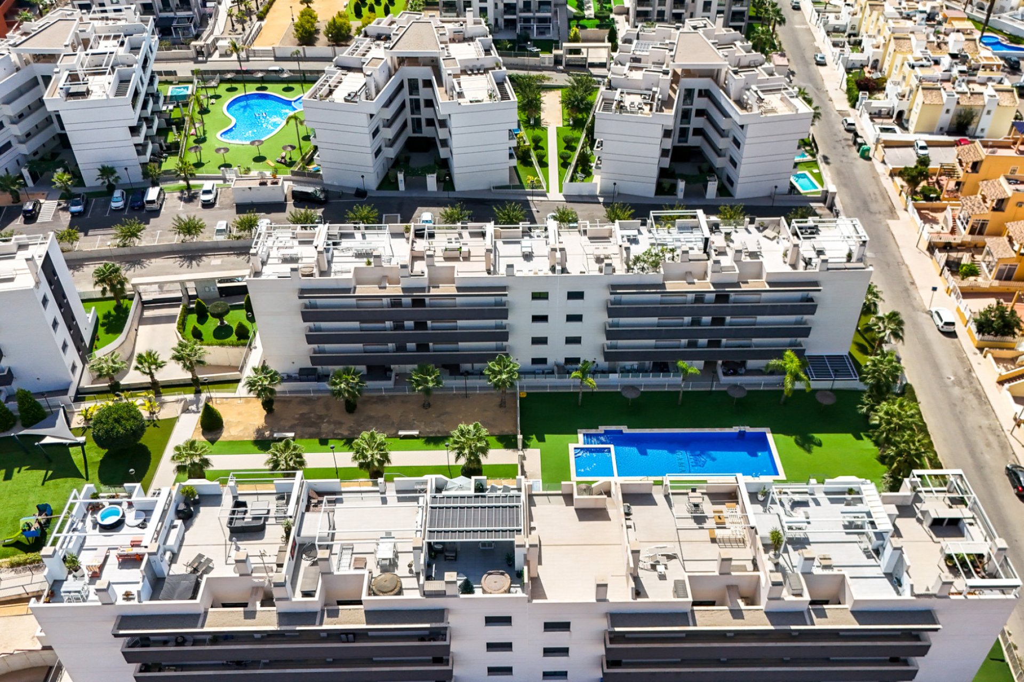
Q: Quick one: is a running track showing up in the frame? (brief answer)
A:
No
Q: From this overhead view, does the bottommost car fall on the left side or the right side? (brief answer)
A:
right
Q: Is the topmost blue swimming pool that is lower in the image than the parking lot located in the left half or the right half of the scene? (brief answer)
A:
right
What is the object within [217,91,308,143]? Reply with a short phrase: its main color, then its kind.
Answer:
blue swimming pool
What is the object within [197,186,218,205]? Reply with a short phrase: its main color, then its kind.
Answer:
white vehicle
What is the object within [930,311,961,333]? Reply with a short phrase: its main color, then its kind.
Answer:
white car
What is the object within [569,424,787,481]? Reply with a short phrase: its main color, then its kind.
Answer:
blue swimming pool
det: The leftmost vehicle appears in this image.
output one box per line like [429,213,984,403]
[16,199,43,219]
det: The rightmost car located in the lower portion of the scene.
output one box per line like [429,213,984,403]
[1001,465,1024,500]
